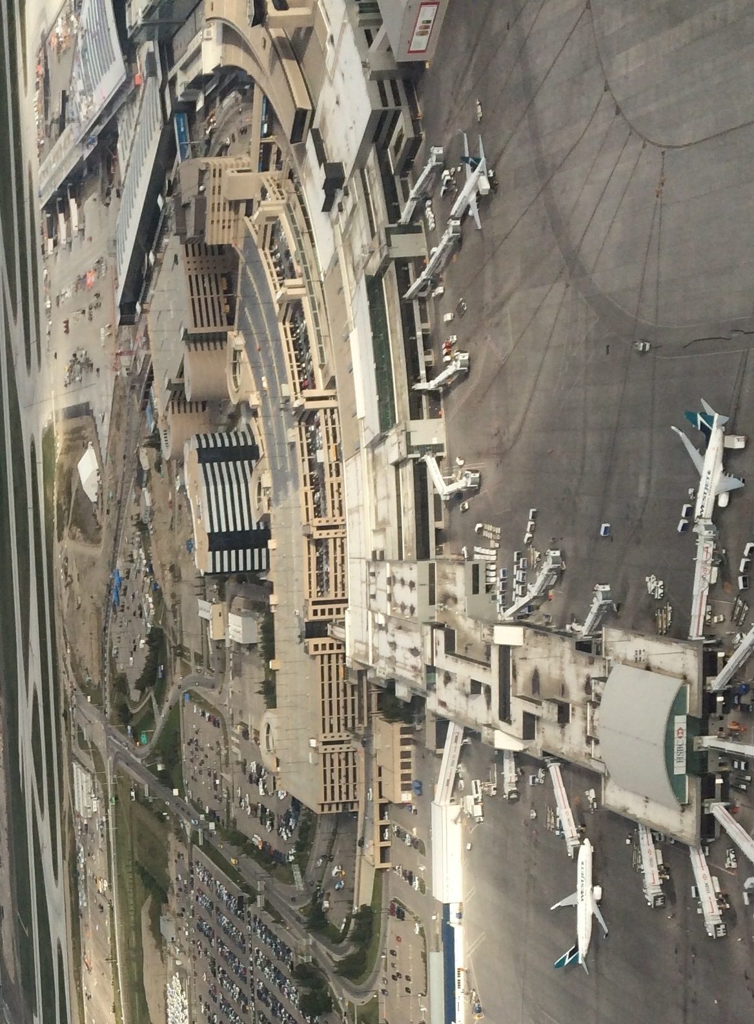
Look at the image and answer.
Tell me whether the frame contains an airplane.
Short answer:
Yes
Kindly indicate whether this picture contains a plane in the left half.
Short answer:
No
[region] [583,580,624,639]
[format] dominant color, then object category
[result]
gray jet bridge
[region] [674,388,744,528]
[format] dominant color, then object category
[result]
white airplane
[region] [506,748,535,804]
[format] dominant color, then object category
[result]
gray jet bridge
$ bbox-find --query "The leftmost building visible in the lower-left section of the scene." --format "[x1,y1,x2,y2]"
[73,764,99,817]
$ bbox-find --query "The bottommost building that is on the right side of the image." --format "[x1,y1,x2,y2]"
[428,902,480,1024]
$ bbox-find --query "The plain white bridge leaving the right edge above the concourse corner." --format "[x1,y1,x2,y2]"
[712,632,754,695]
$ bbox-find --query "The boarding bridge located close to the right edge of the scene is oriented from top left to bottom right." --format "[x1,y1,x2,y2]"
[710,801,754,865]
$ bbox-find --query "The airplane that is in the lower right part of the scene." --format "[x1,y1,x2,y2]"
[546,841,603,967]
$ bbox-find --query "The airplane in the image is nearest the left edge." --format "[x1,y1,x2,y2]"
[453,127,485,231]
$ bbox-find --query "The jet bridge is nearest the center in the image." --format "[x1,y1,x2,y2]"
[424,451,488,496]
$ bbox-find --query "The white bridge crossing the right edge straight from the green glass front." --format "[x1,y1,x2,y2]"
[697,735,754,757]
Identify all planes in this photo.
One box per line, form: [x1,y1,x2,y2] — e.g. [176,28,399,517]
[453,127,485,231]
[546,841,603,967]
[674,388,744,528]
